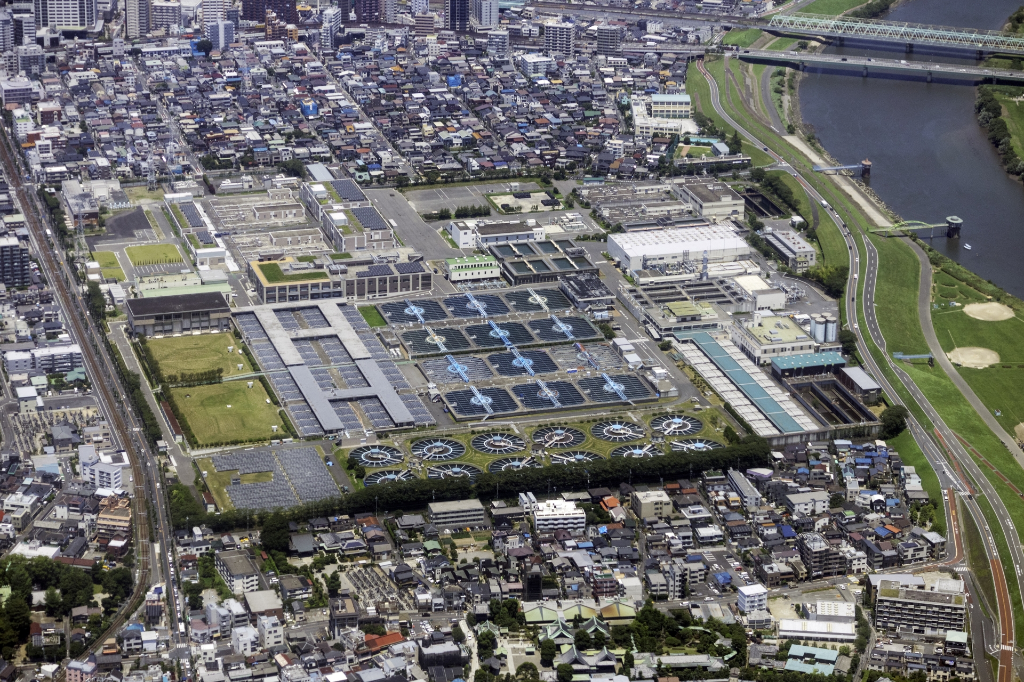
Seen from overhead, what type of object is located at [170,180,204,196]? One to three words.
shed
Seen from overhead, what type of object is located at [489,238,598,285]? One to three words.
water tank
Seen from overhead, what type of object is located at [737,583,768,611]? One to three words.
building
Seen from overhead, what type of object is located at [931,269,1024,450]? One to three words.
sports field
